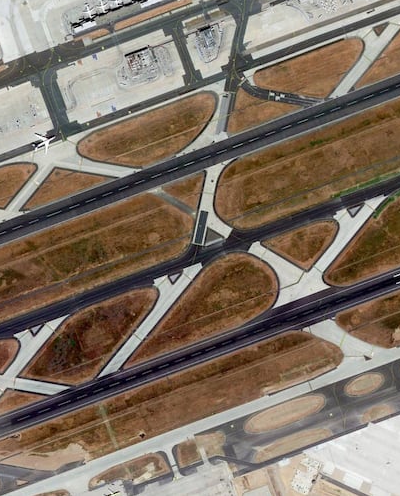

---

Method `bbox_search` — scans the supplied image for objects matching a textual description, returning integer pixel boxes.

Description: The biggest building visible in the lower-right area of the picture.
[293,458,322,492]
